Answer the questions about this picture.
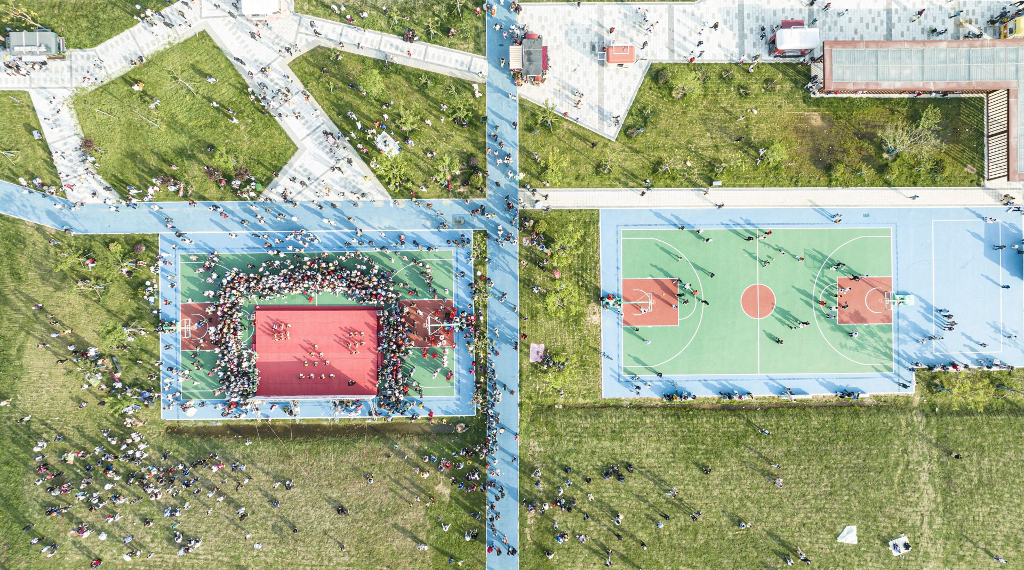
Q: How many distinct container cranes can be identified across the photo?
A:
none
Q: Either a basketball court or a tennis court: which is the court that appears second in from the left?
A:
basketball court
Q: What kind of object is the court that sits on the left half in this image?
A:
basketball court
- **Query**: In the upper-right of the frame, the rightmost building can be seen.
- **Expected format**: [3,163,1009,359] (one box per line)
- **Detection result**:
[817,40,1024,184]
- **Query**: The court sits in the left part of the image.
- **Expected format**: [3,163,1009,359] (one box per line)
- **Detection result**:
[159,229,476,420]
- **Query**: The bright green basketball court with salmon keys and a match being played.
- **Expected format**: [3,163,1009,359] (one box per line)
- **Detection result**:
[600,206,916,398]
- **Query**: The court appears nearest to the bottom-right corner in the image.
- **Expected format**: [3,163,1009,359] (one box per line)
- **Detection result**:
[915,206,1024,369]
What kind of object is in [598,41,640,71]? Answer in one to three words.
camper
